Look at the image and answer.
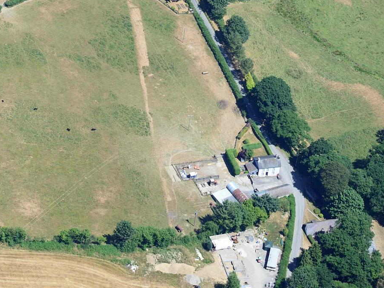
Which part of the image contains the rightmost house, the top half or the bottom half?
bottom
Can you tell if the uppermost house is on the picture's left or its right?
right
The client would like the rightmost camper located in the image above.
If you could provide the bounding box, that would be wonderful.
[266,248,280,272]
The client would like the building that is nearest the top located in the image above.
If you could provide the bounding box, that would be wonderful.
[244,151,283,178]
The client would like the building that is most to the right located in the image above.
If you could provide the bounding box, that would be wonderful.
[302,217,329,239]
